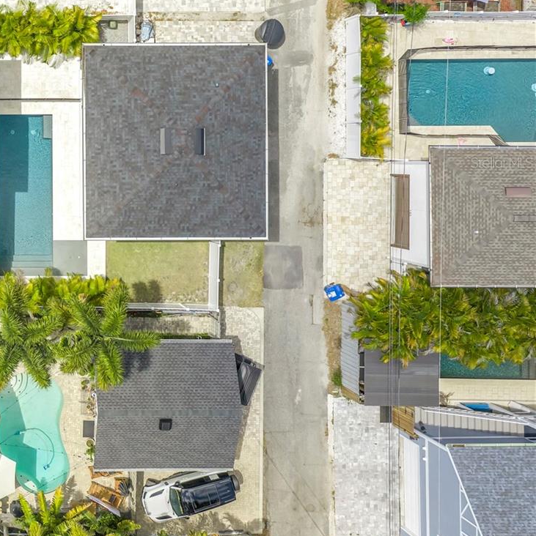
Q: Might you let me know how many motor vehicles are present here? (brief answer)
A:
2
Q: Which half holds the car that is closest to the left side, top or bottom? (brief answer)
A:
bottom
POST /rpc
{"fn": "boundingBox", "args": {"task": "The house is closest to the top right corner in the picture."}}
[388,144,536,289]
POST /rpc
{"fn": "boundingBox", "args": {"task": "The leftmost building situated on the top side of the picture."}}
[79,42,269,241]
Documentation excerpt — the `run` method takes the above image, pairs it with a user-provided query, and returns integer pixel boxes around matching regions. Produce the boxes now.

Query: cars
[236,356,270,404]
[140,472,239,521]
